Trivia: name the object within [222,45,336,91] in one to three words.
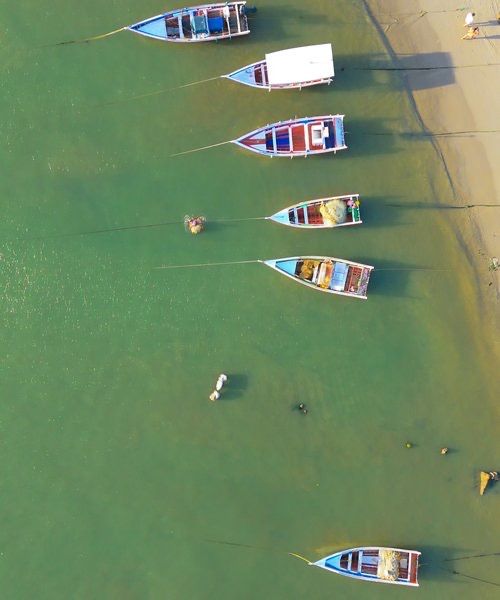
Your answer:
boat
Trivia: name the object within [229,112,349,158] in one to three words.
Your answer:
boat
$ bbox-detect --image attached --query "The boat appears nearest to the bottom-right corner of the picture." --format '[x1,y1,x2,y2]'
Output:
[308,550,422,585]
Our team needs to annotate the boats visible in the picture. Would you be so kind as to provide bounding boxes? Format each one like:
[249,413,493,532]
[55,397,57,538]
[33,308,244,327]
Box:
[260,257,375,298]
[229,112,349,158]
[125,1,267,39]
[264,195,363,228]
[308,550,422,585]
[222,45,336,91]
